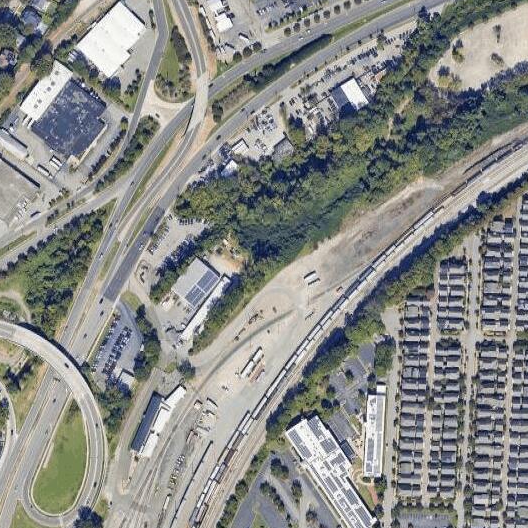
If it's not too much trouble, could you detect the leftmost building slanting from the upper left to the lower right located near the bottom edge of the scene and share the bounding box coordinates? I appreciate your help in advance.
[285,415,377,528]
